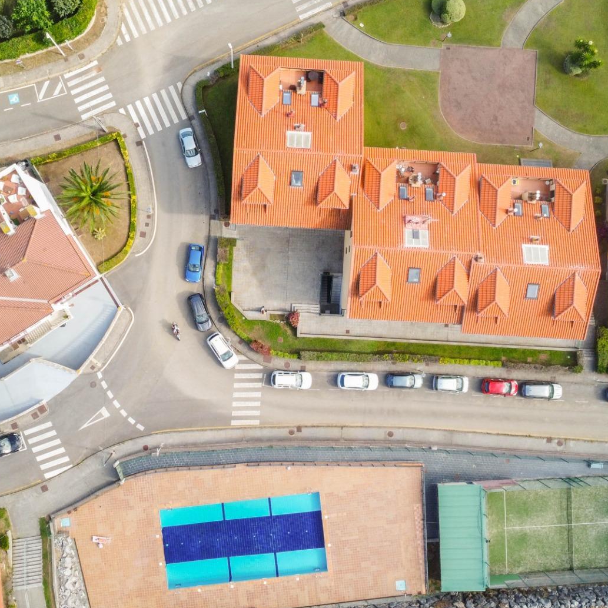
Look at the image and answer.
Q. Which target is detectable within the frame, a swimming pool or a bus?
swimming pool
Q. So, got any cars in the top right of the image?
No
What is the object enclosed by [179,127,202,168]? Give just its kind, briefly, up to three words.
car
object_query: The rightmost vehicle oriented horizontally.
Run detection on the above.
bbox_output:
[521,381,562,401]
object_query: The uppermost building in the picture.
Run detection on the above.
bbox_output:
[230,54,364,232]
